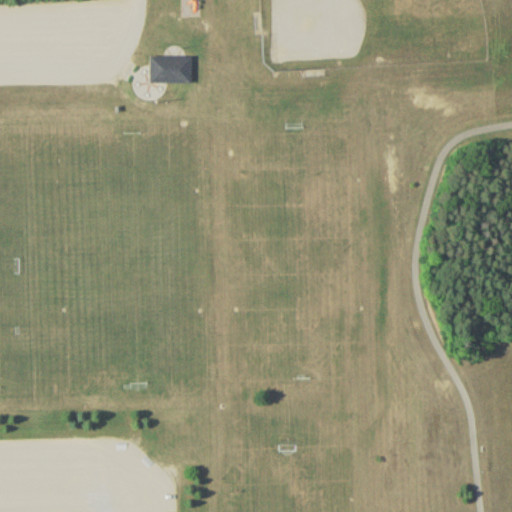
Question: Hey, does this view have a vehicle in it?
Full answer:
No, I find no vehicle anywhere in the image.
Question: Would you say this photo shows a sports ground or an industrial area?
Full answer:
It's a sports ground.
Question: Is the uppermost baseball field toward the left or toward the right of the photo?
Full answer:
The uppermost baseball field appears in the right half of the scene.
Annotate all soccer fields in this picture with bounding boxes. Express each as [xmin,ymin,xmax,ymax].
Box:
[234,130,362,446]
[20,134,203,385]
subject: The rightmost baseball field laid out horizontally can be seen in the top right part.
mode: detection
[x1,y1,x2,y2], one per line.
[268,0,486,70]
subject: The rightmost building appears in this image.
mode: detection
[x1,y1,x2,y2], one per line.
[150,56,192,82]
